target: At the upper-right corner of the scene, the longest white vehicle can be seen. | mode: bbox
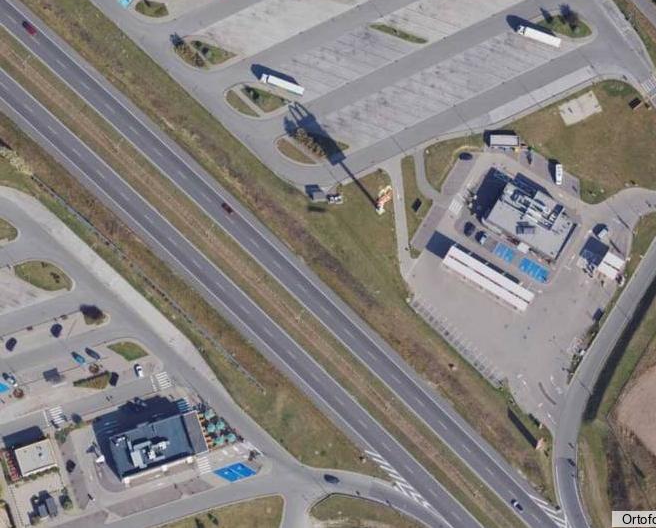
[518,29,562,48]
